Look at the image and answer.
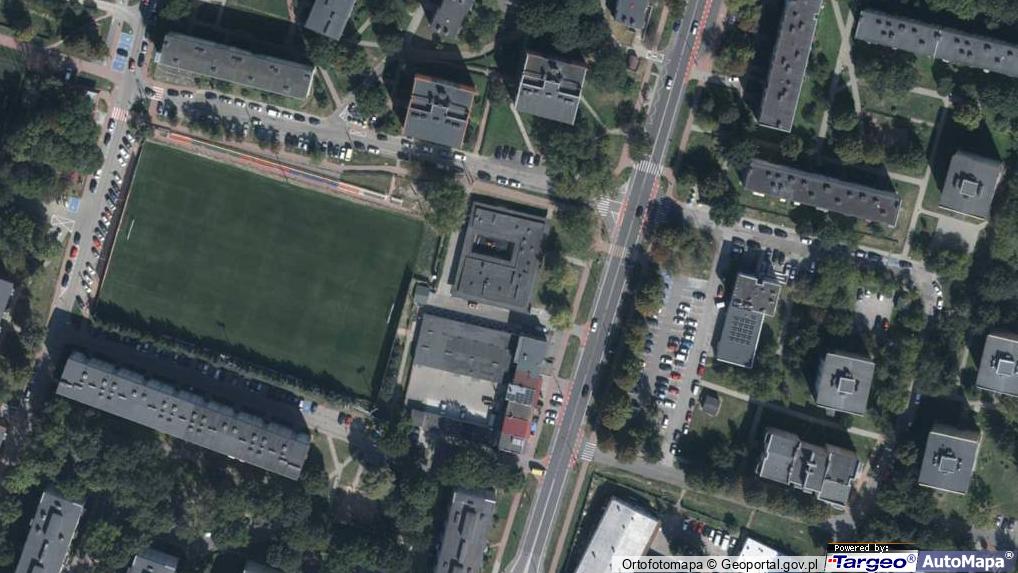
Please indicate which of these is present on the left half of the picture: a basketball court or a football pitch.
football pitch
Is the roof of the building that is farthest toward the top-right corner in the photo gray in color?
Yes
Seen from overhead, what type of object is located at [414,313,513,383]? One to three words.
building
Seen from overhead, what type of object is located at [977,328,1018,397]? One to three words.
building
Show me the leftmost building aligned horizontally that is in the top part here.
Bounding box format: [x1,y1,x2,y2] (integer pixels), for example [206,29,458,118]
[155,31,319,98]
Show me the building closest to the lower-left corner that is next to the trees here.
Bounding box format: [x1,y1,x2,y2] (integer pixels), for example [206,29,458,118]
[13,487,89,573]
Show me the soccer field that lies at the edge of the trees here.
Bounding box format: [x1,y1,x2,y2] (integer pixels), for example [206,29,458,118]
[91,139,424,402]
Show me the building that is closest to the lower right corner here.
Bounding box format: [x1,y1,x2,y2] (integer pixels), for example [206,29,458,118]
[919,426,979,494]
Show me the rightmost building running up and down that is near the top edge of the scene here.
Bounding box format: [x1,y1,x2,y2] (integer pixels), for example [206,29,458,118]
[757,0,824,132]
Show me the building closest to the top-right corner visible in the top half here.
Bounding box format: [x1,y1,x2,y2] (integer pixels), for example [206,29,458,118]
[855,7,1018,77]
